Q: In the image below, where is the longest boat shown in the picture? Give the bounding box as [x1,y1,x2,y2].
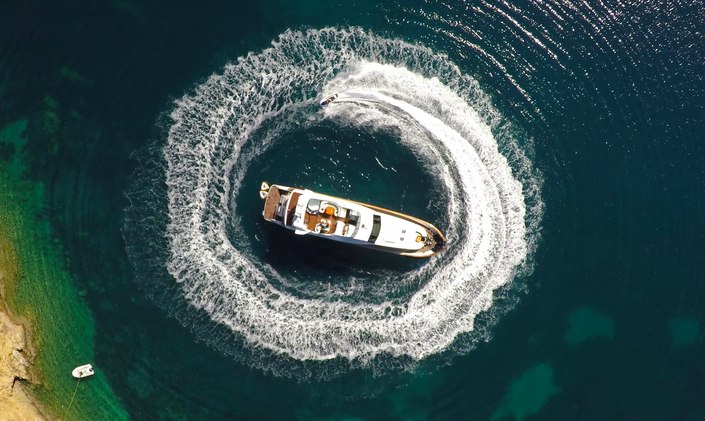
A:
[260,185,445,256]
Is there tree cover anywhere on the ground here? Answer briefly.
No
